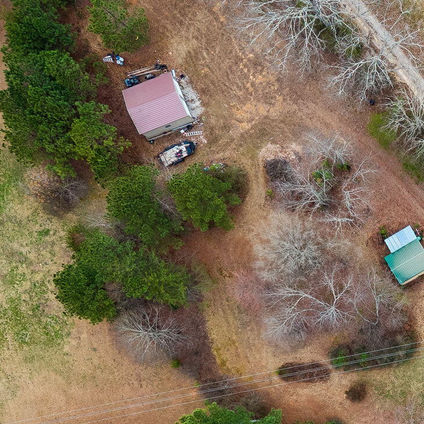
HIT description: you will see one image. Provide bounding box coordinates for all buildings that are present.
[122,72,194,140]
[378,227,424,285]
